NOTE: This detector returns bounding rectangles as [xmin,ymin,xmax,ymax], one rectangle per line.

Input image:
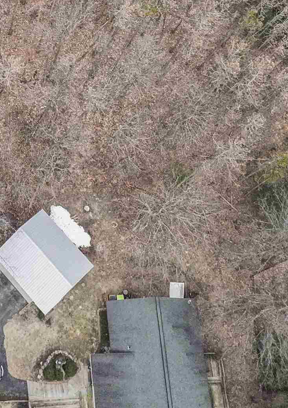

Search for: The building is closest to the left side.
[0,210,94,314]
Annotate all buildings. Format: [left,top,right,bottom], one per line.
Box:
[0,210,94,314]
[89,298,210,408]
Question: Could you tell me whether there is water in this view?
No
